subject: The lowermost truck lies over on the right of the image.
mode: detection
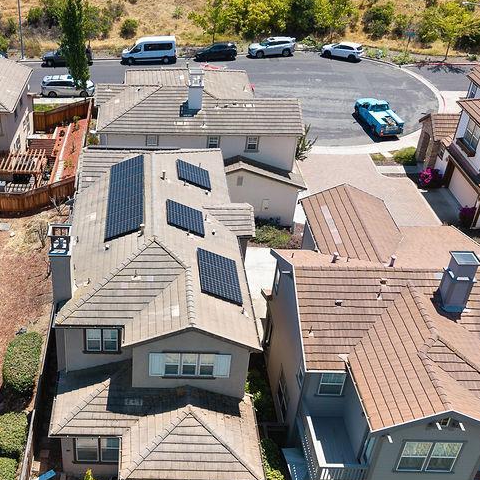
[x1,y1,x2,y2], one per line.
[358,100,406,135]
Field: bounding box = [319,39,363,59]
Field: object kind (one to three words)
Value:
car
